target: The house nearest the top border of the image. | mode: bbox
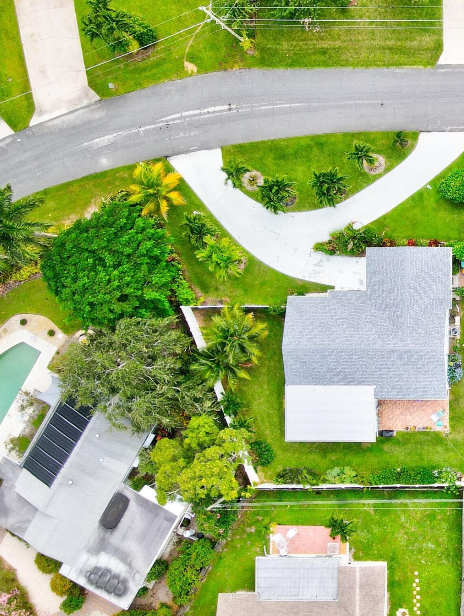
[280,245,453,442]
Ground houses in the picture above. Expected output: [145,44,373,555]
[280,245,453,442]
[0,379,185,611]
[215,556,389,616]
